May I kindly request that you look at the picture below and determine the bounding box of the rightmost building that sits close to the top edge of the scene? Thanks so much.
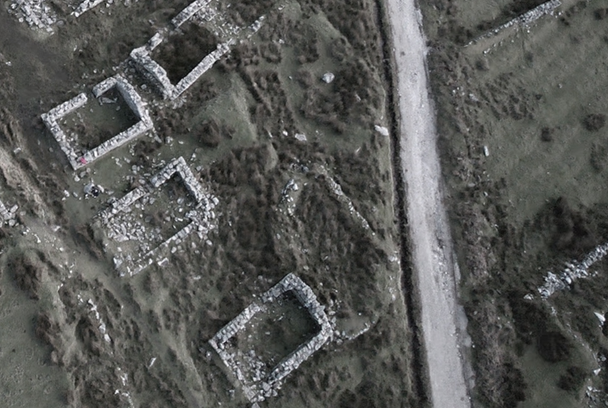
[124,0,267,107]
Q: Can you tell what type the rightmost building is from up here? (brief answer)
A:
residential house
